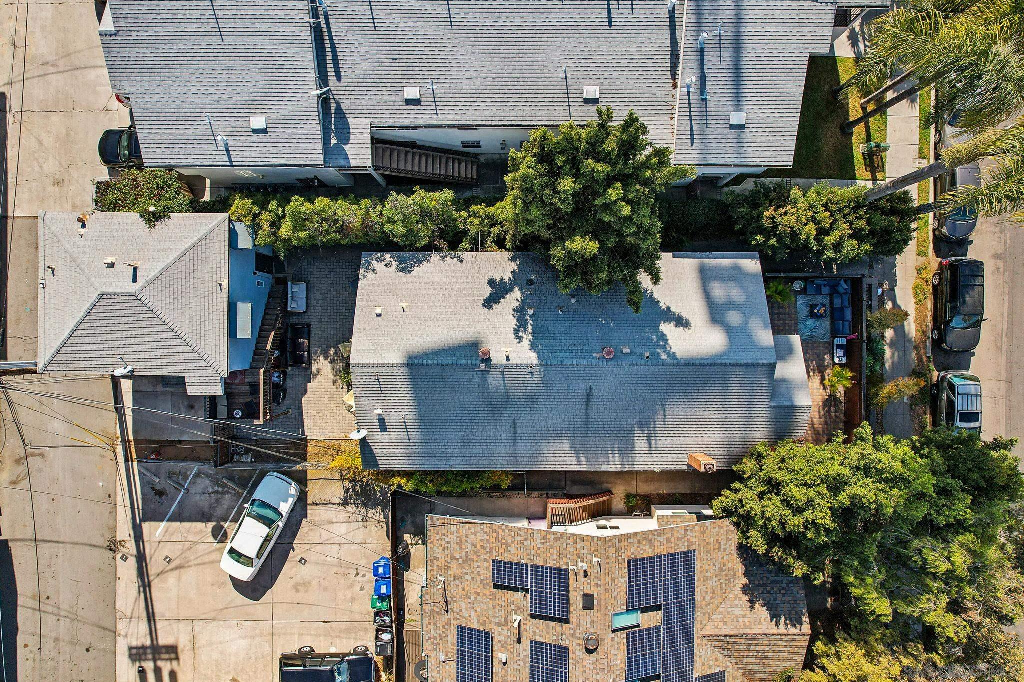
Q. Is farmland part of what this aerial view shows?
No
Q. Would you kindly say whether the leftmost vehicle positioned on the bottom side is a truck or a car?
car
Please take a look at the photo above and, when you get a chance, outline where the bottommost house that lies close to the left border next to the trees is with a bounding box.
[36,210,268,396]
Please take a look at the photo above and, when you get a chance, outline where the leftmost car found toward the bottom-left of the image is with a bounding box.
[222,472,300,580]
